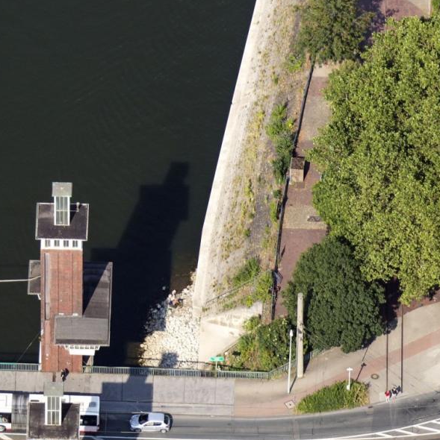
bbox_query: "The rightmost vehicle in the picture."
[131,410,173,432]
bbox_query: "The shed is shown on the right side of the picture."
[289,156,305,182]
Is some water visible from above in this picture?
Yes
